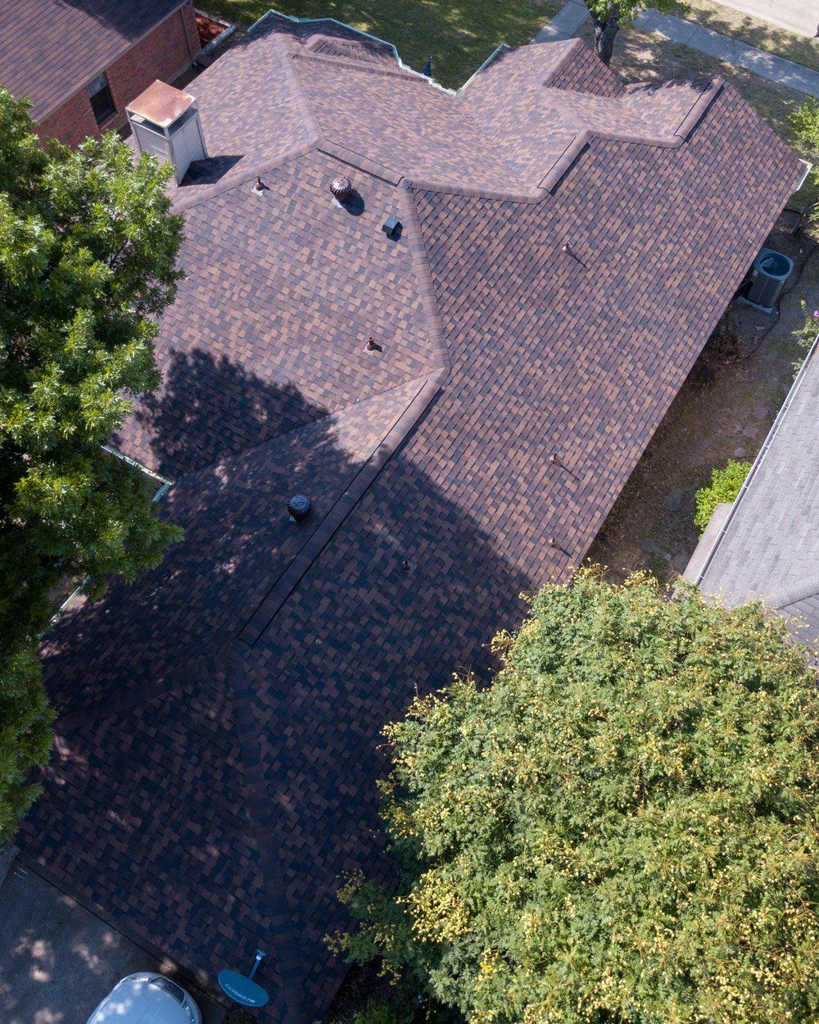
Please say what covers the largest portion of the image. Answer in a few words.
buildings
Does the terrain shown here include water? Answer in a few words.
No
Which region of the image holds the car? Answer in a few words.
bottom left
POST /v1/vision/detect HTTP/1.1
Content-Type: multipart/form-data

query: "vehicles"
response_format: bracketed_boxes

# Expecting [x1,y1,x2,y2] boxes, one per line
[83,970,202,1024]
